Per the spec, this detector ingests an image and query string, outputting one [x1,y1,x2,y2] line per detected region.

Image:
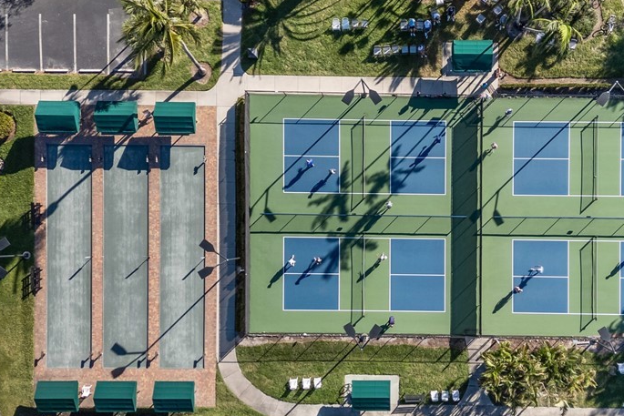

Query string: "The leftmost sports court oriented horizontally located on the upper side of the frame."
[284,118,446,194]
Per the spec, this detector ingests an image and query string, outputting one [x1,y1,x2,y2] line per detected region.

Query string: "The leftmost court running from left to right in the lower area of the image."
[283,236,445,312]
